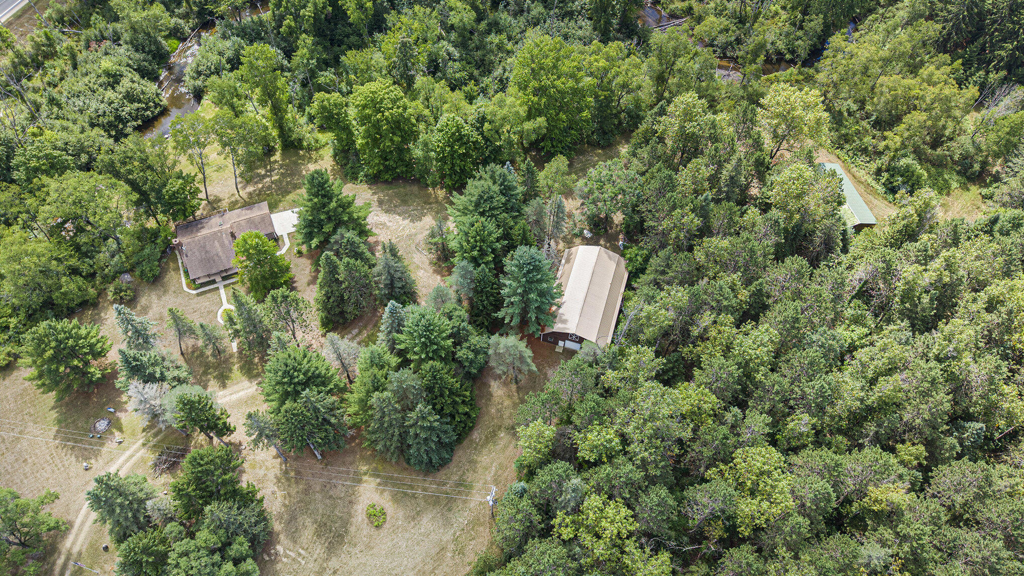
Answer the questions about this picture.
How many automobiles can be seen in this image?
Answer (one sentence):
The count of automobiles is 0.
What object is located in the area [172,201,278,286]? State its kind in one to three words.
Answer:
house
